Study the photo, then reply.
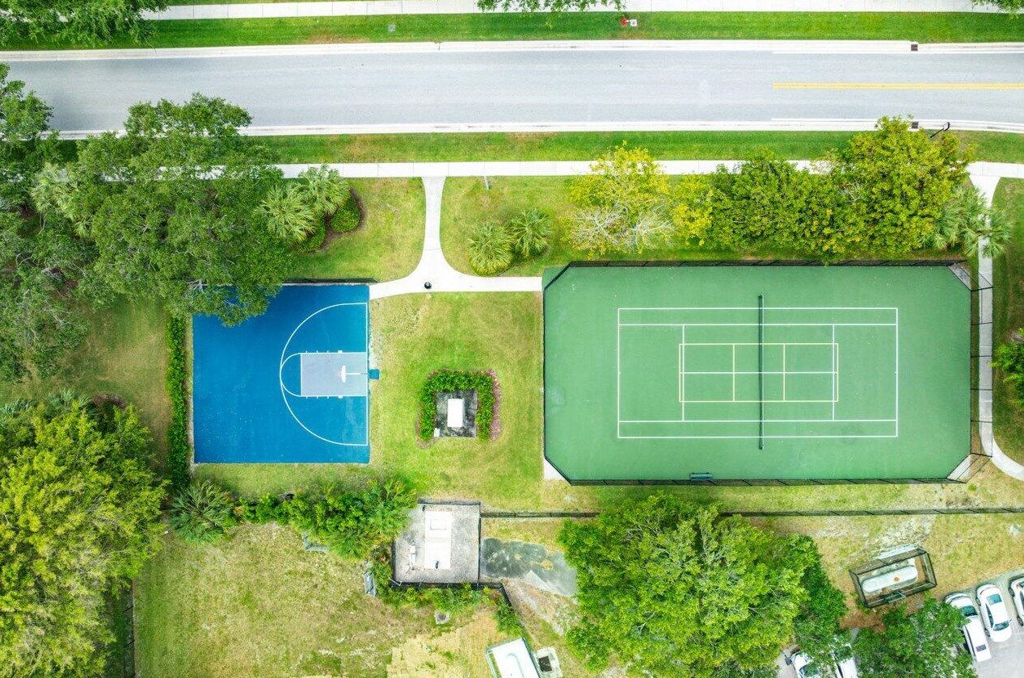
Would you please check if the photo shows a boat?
No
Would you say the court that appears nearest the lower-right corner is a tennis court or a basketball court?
tennis court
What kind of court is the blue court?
basketball court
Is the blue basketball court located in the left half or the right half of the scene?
left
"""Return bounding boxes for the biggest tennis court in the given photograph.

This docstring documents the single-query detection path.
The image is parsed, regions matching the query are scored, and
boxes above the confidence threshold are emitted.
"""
[543,265,971,481]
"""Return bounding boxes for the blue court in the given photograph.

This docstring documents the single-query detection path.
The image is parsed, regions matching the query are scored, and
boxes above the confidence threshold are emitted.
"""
[193,285,369,463]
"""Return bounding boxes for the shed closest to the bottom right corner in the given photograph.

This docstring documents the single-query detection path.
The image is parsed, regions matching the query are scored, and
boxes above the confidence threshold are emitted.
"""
[487,638,539,678]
